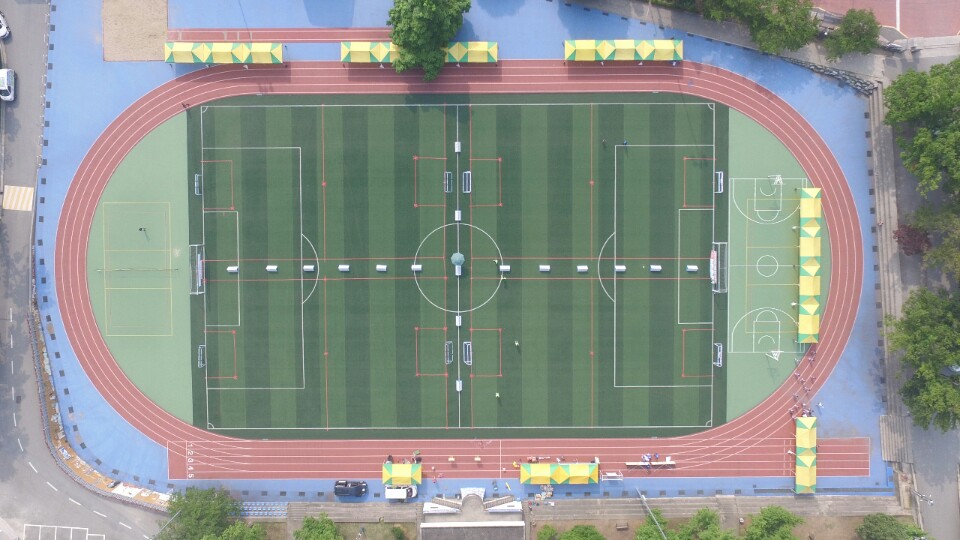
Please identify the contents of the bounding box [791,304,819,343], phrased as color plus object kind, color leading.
yellow tent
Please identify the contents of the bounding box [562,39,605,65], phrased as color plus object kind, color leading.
yellow tent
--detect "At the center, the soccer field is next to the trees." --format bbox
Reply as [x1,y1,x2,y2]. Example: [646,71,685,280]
[188,92,728,441]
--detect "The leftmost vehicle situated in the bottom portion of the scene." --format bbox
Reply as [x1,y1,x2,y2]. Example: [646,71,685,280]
[335,479,367,496]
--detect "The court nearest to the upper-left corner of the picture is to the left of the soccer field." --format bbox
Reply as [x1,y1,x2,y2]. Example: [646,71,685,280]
[87,111,193,428]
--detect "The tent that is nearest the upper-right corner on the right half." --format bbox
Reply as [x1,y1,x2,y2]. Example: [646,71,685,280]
[792,188,821,228]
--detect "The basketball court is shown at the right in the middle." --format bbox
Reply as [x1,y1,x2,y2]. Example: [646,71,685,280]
[727,107,832,424]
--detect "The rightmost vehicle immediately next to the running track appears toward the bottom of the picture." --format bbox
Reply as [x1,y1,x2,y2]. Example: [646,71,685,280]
[385,484,418,498]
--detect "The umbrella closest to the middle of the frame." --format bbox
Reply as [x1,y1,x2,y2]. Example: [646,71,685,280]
[451,255,464,269]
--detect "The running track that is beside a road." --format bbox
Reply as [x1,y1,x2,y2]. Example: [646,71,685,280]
[54,60,870,480]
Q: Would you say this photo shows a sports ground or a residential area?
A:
sports ground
